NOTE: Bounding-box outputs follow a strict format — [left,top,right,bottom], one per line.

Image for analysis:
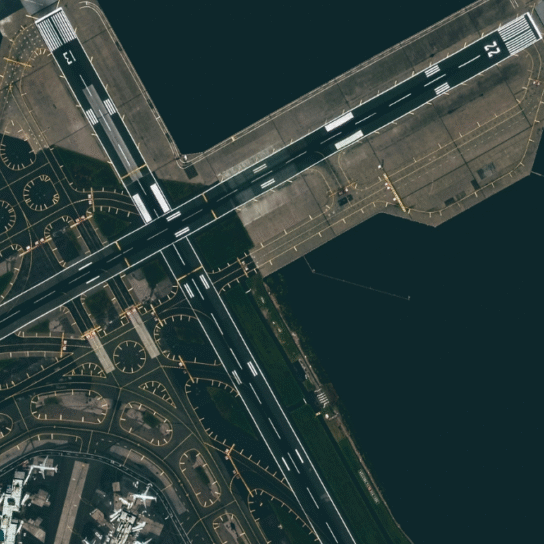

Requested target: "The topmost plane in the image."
[32,457,58,481]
